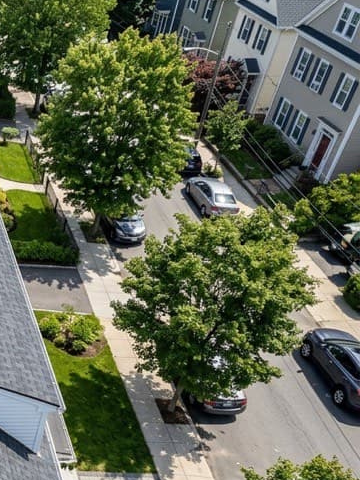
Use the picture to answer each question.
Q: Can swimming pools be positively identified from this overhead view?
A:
No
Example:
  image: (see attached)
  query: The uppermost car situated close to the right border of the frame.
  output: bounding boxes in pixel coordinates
[322,225,360,266]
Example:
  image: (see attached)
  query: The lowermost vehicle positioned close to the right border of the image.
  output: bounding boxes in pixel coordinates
[298,328,360,417]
